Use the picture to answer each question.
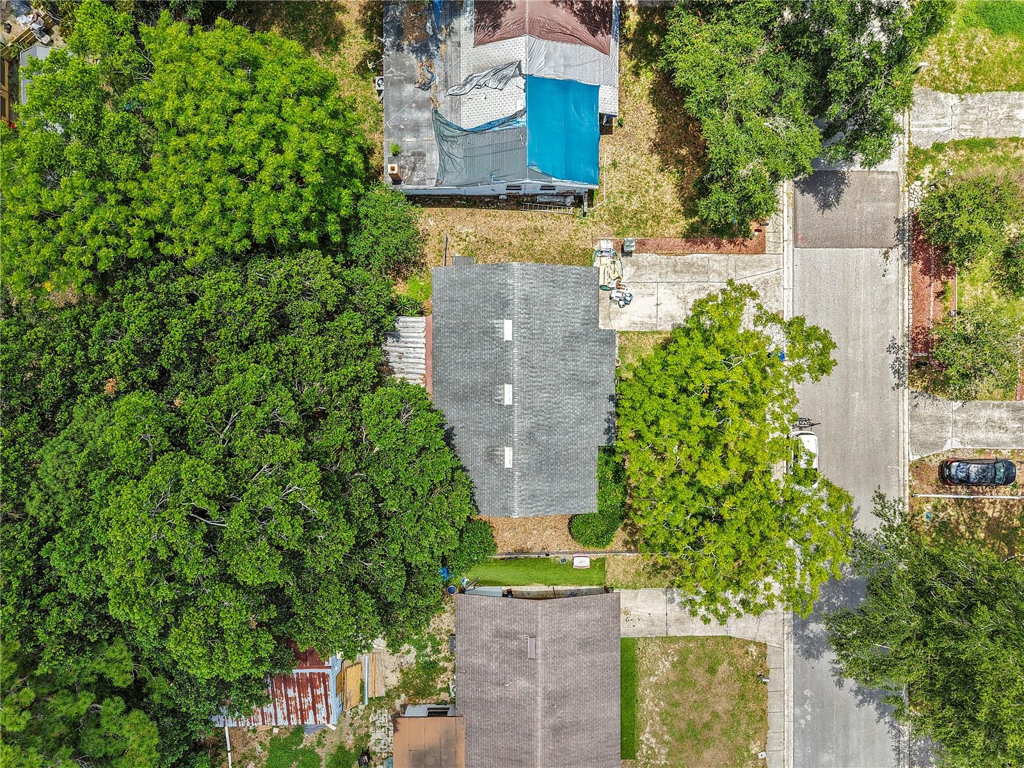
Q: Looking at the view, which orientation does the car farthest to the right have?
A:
horizontally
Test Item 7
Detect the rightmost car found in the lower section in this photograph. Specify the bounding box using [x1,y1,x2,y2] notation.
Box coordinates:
[938,454,1016,489]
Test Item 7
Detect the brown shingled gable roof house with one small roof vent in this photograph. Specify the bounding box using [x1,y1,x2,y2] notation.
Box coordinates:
[455,590,622,768]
